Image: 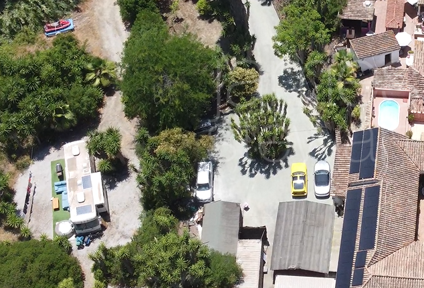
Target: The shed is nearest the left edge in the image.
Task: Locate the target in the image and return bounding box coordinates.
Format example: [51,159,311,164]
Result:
[201,201,243,262]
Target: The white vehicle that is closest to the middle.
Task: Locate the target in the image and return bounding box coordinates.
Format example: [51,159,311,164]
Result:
[193,164,214,204]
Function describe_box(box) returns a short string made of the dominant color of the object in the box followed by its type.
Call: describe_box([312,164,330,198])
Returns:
white car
